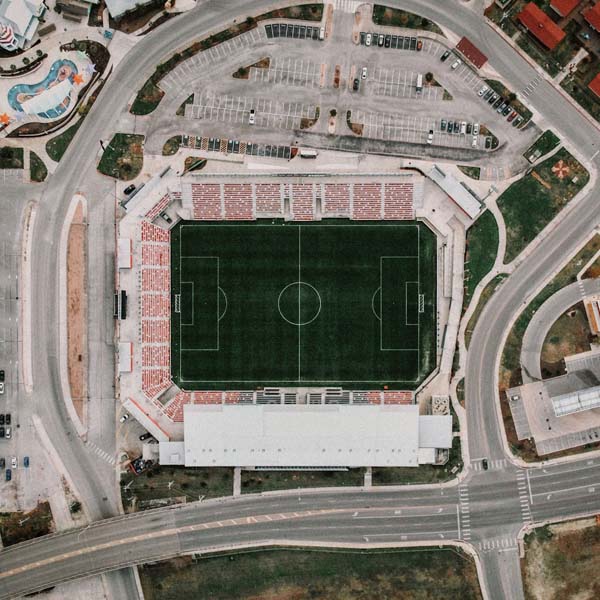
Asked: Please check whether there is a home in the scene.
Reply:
Yes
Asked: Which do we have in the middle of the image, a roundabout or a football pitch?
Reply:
football pitch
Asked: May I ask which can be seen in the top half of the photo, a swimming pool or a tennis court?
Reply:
swimming pool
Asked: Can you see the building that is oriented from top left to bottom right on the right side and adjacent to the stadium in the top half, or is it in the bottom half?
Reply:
top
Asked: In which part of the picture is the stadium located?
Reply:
center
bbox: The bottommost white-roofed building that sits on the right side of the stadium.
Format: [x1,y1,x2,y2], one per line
[551,384,600,417]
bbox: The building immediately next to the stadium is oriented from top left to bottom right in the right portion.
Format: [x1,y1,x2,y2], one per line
[429,164,484,220]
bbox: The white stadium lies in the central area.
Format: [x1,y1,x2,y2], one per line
[141,173,452,471]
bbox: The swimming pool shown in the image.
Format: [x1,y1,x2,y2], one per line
[8,59,78,119]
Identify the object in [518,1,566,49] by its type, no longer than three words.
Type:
house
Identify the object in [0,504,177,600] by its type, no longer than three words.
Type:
bridge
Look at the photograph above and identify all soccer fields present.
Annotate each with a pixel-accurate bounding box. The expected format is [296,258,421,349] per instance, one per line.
[171,219,437,391]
